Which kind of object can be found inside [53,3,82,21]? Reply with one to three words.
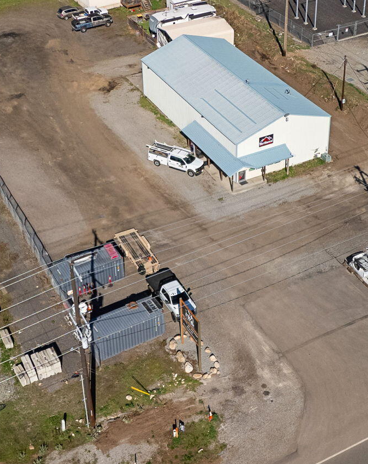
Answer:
car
